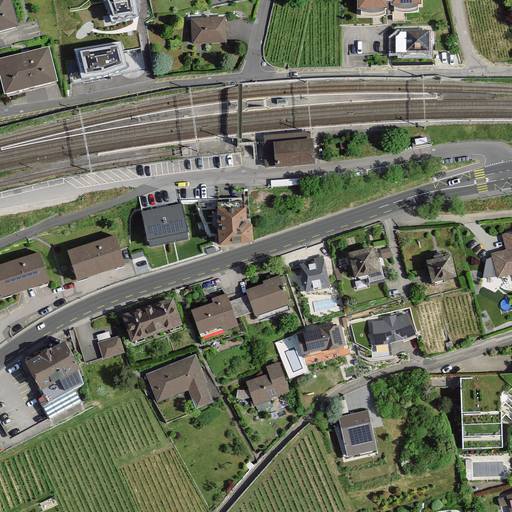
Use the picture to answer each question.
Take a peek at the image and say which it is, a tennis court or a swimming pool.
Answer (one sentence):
Of the two, only a swimming pool appears.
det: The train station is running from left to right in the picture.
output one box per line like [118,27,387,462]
[2,92,512,154]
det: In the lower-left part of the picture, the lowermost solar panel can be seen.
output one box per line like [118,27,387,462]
[60,372,82,390]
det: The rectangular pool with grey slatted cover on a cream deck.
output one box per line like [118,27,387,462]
[466,456,511,480]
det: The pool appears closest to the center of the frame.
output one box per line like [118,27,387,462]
[312,297,338,312]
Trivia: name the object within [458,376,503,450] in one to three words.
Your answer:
building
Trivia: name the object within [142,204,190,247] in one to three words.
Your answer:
house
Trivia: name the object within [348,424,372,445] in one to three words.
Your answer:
solar panel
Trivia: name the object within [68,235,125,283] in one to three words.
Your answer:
house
